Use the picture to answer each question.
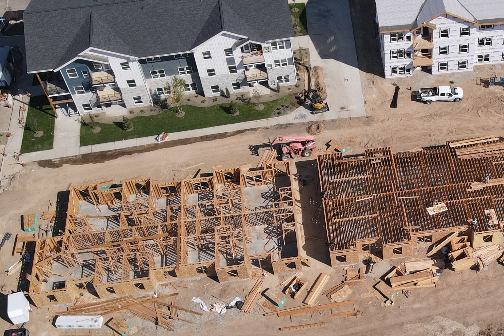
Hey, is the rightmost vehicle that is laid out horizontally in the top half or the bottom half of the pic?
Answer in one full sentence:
The rightmost vehicle that is laid out horizontally sits in the top half of the picture.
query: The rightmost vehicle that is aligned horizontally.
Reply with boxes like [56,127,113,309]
[417,83,463,103]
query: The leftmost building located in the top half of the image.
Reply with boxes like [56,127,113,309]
[20,0,298,120]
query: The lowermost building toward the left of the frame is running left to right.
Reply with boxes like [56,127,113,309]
[27,160,303,308]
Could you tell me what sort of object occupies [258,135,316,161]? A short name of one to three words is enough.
work vehicle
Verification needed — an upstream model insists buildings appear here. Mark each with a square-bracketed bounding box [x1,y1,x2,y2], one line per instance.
[316,137,504,267]
[27,160,303,308]
[20,0,298,120]
[372,0,504,79]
